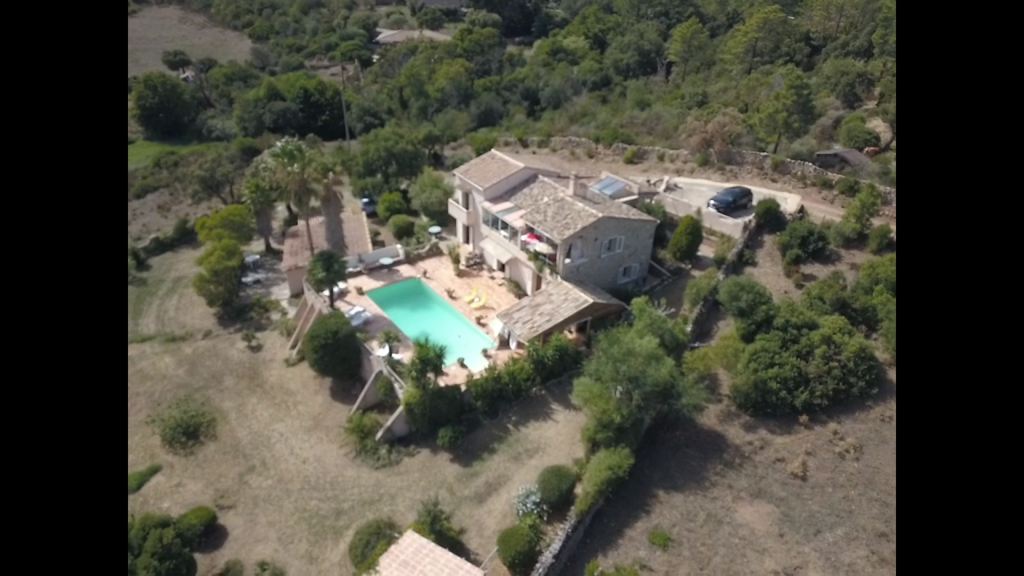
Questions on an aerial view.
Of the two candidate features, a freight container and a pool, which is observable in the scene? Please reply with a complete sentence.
It is a pool that can be seen here.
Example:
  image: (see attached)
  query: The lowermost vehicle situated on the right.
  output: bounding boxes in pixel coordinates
[708,189,758,214]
